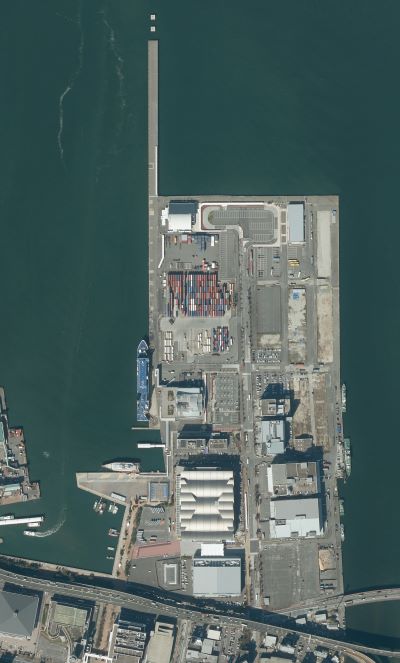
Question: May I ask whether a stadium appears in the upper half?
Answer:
No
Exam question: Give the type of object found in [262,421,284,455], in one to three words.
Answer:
building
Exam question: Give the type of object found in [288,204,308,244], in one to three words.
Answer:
building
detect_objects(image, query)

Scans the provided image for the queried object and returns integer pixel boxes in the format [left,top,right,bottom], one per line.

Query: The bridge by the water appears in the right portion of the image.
[263,589,400,614]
